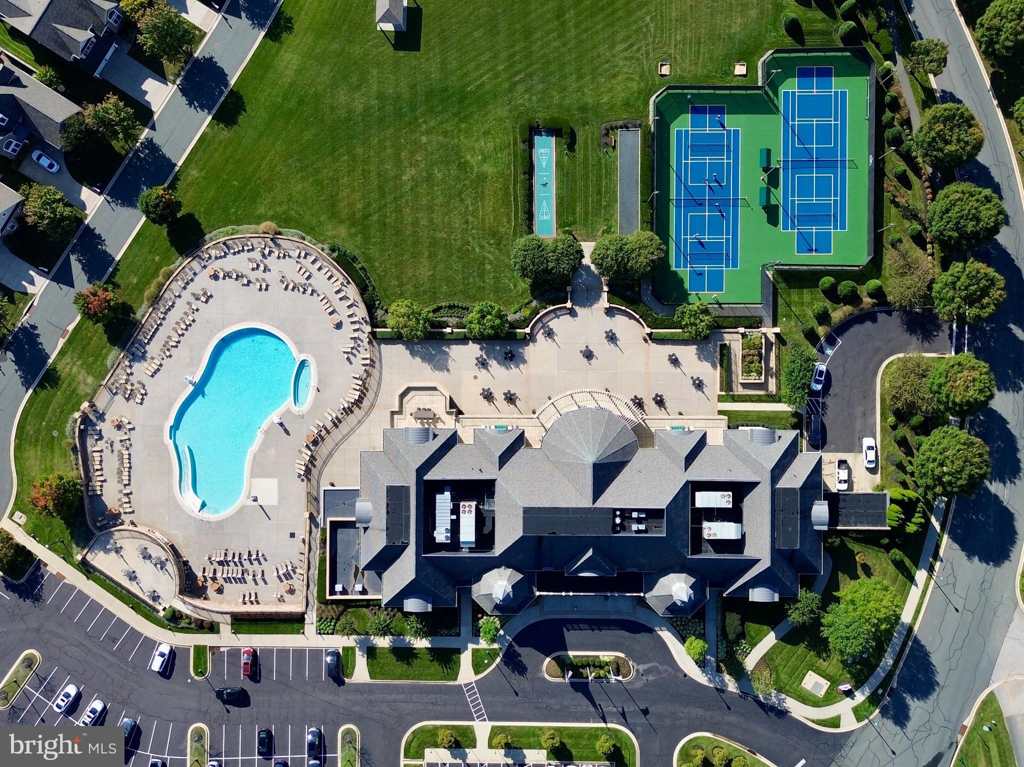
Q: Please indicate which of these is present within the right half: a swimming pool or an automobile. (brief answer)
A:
automobile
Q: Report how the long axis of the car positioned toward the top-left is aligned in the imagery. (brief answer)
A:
diagonally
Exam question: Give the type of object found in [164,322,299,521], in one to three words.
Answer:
swimming pool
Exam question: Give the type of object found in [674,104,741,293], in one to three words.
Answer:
tennis court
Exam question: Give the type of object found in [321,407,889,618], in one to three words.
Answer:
building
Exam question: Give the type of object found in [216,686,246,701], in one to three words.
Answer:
car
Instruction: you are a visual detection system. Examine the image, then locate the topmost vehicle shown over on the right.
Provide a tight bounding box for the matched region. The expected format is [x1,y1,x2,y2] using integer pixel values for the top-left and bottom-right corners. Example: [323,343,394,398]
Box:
[810,362,827,392]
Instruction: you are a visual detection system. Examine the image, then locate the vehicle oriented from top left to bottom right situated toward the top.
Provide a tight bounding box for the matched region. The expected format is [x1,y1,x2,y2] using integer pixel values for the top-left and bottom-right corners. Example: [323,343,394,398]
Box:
[32,149,61,174]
